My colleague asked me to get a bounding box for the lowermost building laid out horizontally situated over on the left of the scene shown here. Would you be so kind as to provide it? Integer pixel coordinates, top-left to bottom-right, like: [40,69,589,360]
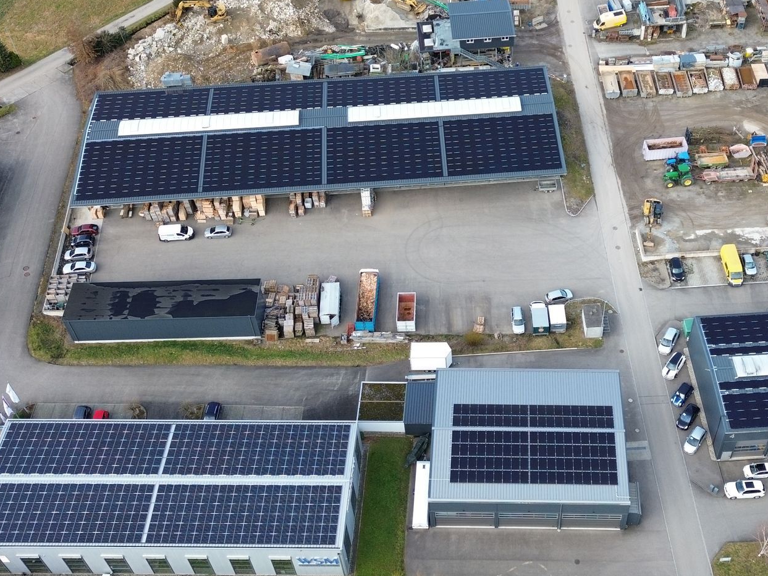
[0,420,361,571]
